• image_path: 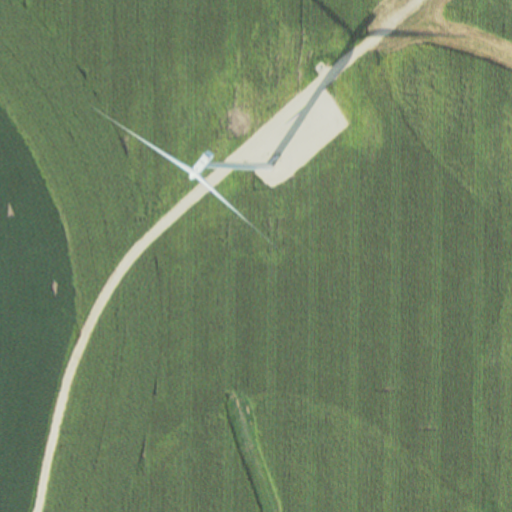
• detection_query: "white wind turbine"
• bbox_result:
[88,105,281,244]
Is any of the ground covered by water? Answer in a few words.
No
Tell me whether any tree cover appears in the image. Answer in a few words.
No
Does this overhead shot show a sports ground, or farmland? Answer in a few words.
farmland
